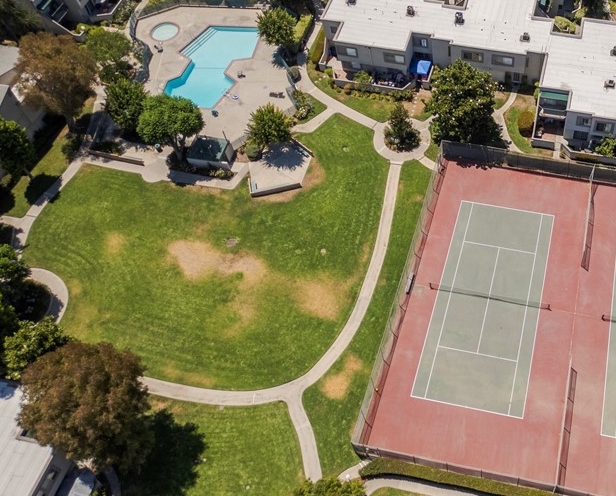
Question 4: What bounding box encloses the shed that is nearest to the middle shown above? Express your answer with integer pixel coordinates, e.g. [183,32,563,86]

[187,132,237,174]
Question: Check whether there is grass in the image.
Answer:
Yes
